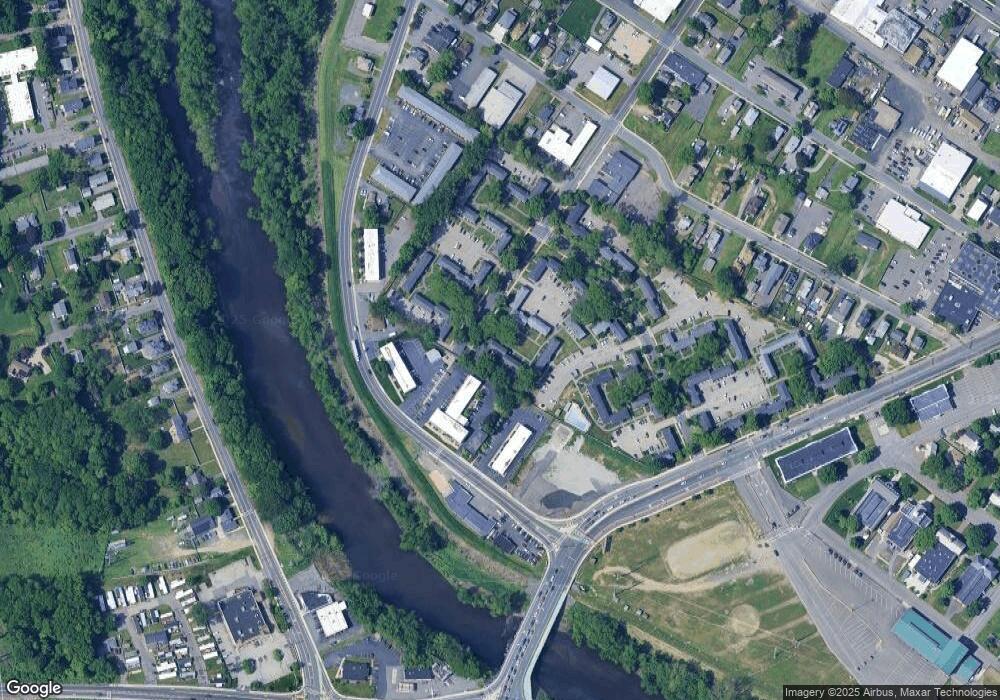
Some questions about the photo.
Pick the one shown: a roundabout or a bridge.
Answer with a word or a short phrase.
bridge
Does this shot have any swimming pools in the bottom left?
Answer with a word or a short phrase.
No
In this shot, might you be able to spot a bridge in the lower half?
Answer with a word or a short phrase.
Yes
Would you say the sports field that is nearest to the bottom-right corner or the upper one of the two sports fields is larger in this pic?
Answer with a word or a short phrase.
the upper one of the two sports fields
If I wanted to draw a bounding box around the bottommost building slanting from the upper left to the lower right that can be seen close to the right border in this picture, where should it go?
[894,607,971,680]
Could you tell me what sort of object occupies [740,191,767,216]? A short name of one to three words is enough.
house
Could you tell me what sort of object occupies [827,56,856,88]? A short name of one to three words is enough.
barn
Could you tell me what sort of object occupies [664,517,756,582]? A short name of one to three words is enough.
sports field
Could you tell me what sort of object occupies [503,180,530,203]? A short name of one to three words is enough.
building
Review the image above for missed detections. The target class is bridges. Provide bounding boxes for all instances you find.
[497,580,568,691]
